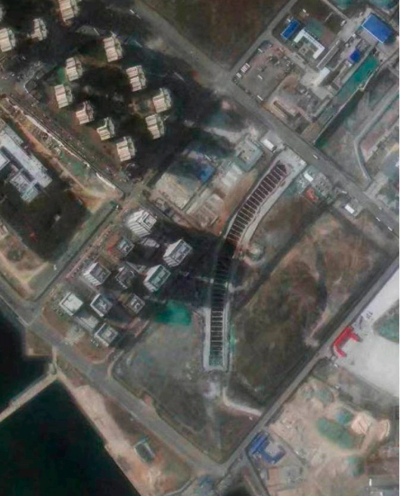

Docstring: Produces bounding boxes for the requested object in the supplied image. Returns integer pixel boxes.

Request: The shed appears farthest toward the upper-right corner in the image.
[362,13,393,42]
